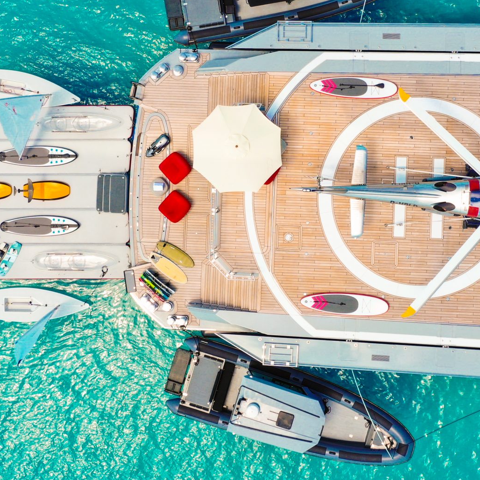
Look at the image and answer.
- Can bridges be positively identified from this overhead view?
No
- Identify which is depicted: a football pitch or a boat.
boat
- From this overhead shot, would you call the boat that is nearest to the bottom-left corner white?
Yes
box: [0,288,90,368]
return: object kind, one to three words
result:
boat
